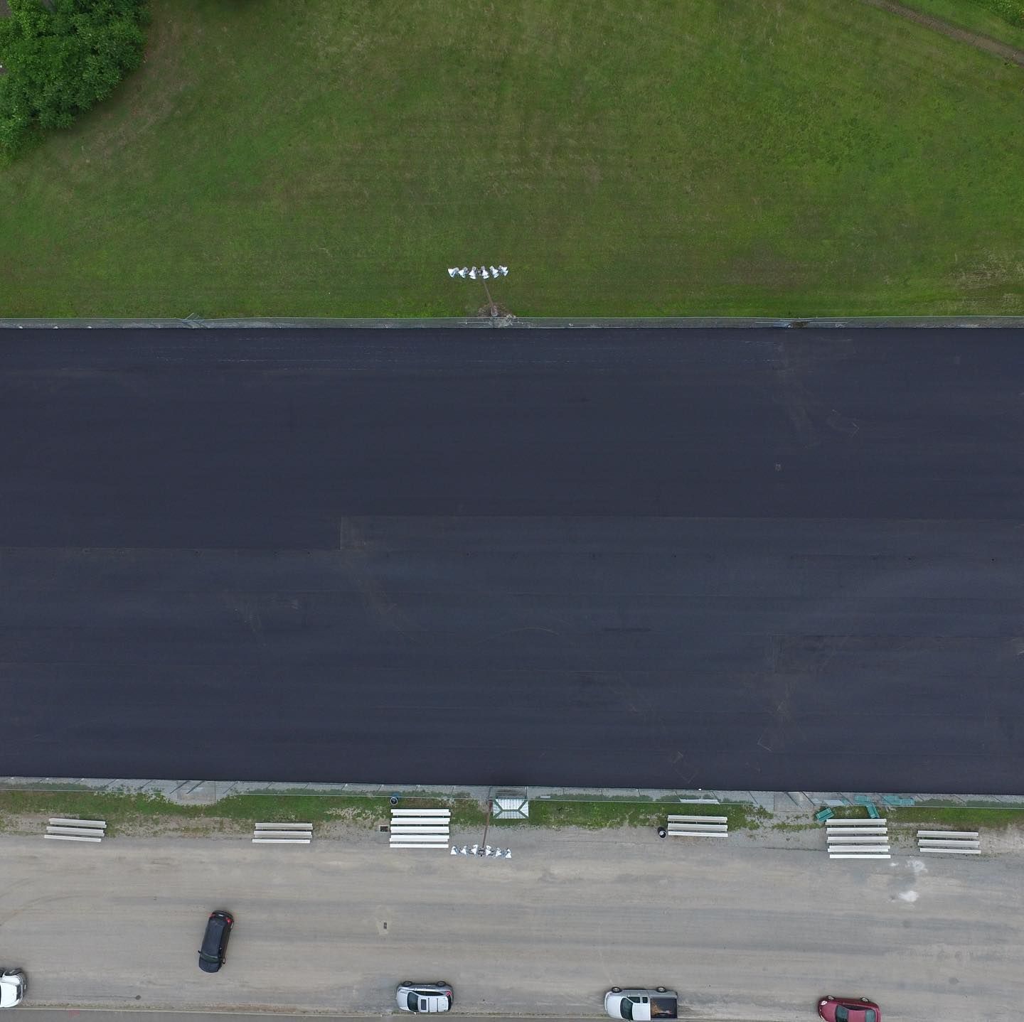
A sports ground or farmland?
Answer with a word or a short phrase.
sports ground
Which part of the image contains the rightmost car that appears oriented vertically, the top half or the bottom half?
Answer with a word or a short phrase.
bottom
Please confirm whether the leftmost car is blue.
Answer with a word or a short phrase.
No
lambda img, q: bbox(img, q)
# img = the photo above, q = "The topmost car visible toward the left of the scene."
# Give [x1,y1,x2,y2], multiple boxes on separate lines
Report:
[197,909,234,972]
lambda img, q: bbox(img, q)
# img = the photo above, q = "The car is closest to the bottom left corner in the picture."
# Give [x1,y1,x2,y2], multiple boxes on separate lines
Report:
[0,973,26,1005]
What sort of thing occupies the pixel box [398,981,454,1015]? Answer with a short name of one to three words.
car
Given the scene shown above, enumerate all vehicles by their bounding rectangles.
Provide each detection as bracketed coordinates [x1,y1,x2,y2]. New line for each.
[197,909,234,972]
[0,973,26,1005]
[818,997,884,1022]
[604,986,678,1022]
[398,981,454,1015]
